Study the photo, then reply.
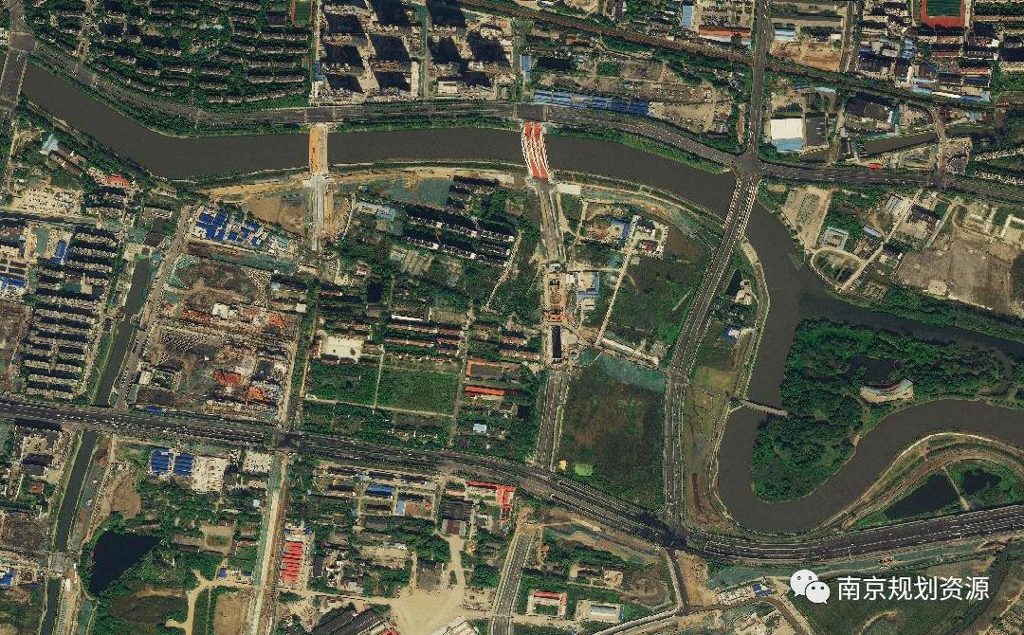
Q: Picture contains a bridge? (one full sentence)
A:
Yes, I can see a bridge in this picture.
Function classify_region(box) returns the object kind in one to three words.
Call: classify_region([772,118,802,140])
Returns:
building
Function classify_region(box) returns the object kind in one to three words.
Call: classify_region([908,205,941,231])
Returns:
building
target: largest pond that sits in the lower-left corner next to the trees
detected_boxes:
[90,531,158,594]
